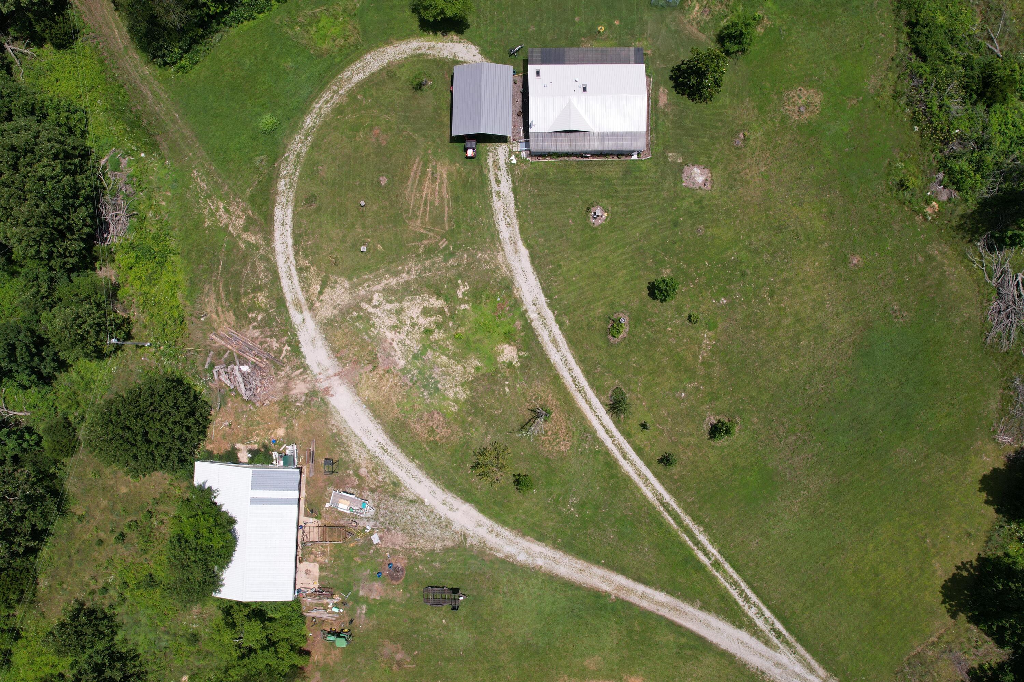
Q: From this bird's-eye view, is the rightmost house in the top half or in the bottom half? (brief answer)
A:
top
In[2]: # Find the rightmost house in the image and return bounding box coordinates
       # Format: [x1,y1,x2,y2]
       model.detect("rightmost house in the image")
[528,47,648,155]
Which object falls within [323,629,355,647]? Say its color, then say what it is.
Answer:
green work vehicle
